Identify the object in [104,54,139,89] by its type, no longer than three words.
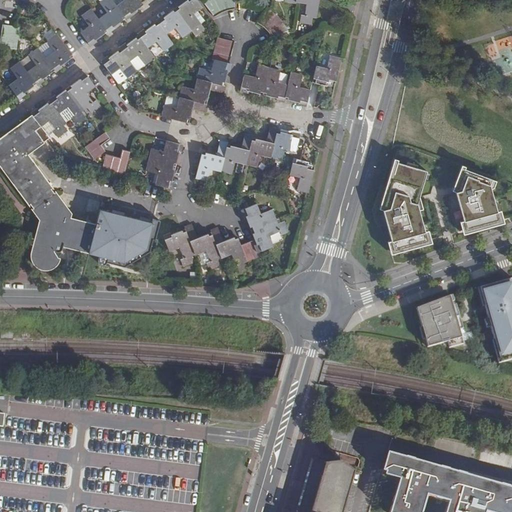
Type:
house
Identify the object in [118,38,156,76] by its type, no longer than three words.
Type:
house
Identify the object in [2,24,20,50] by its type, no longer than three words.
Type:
building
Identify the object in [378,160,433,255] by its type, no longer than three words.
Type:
building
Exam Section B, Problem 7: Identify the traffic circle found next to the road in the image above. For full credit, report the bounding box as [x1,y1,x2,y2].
[271,258,363,354]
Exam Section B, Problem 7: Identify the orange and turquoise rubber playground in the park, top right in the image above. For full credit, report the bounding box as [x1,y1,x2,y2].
[486,36,512,72]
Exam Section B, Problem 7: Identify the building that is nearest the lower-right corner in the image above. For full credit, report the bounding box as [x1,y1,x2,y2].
[382,446,512,512]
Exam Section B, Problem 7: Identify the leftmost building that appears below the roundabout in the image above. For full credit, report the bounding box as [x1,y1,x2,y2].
[311,449,358,512]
